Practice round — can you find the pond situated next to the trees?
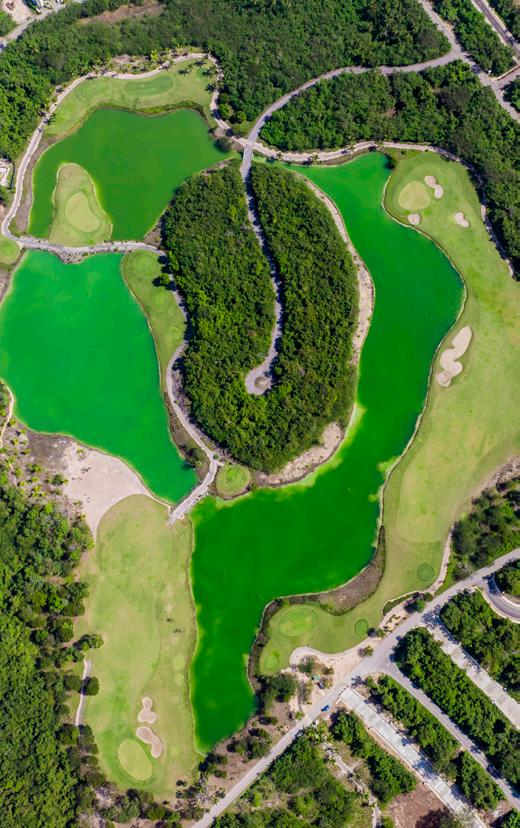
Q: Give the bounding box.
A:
[27,107,243,242]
